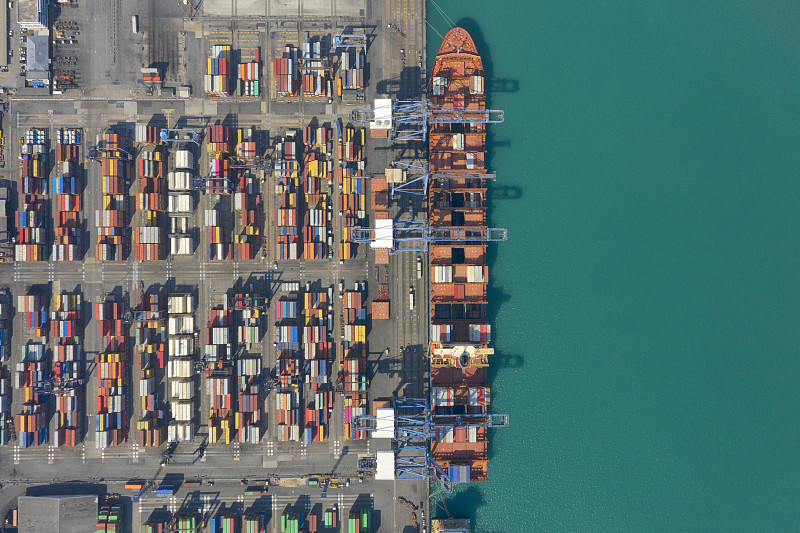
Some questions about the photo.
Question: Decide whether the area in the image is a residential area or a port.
port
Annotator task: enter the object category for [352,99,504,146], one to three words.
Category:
container crane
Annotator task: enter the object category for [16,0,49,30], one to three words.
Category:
building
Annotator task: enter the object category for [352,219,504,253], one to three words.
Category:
container crane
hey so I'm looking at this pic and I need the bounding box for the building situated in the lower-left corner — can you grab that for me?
[16,492,104,533]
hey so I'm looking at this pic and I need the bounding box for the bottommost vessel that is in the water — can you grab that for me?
[431,506,471,533]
